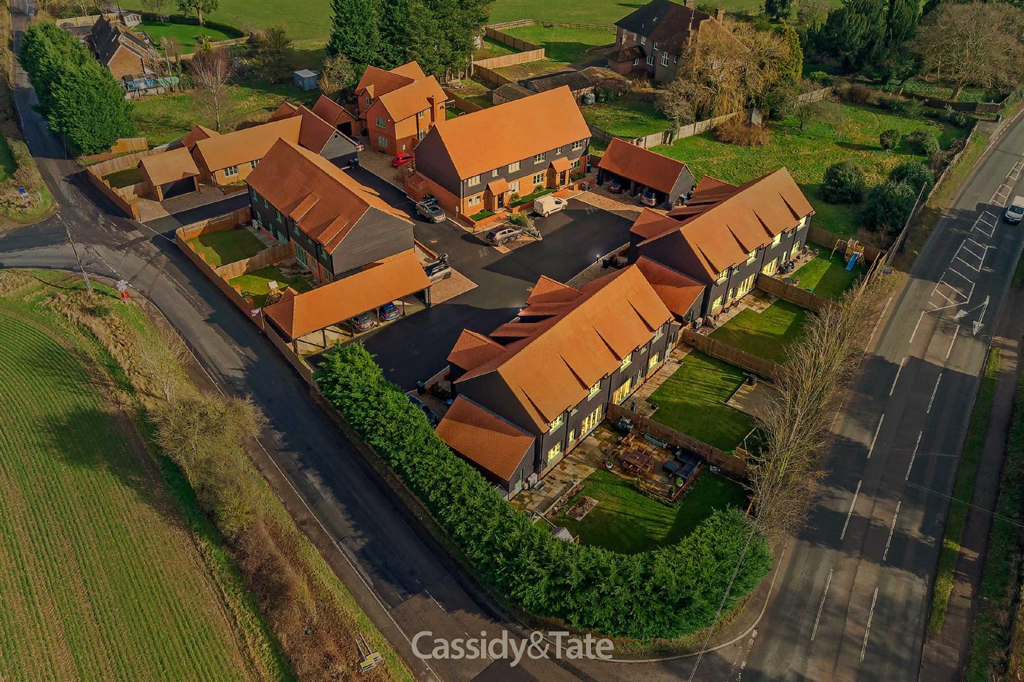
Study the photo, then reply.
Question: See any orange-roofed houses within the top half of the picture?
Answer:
Yes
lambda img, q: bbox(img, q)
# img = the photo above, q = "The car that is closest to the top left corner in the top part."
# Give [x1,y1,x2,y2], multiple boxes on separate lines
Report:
[354,139,372,157]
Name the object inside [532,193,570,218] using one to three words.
vehicle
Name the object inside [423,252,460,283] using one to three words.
car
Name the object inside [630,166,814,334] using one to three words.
house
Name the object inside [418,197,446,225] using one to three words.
car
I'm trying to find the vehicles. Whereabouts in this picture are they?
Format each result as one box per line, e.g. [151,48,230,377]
[638,186,662,208]
[606,175,631,195]
[345,312,377,338]
[418,197,446,225]
[532,193,570,218]
[385,151,416,169]
[372,302,403,326]
[423,252,460,283]
[1005,190,1024,222]
[483,226,525,250]
[354,139,372,157]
